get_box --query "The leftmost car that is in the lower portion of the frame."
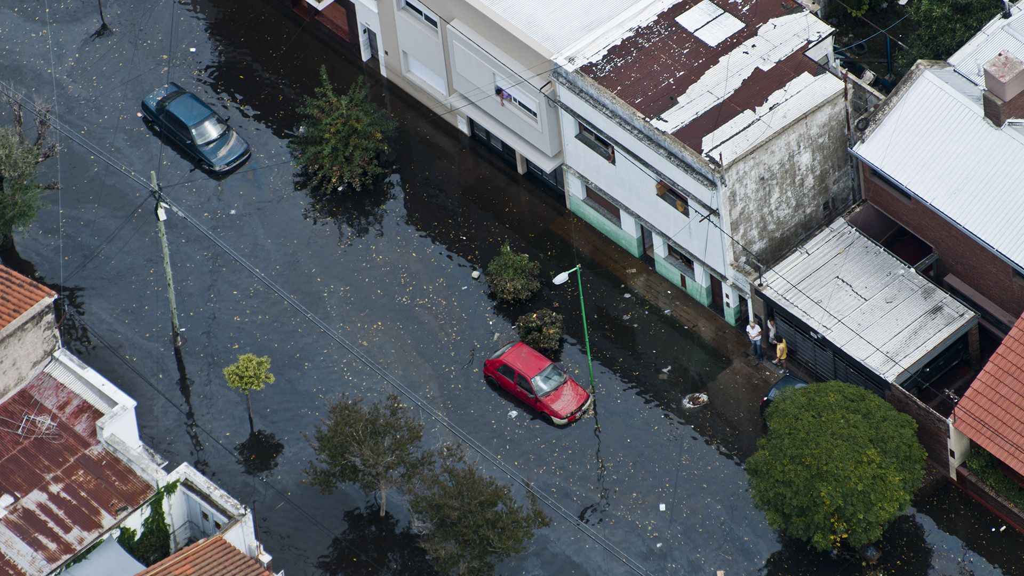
[483,344,592,425]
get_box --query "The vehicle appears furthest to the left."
[141,84,251,173]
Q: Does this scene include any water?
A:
Yes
